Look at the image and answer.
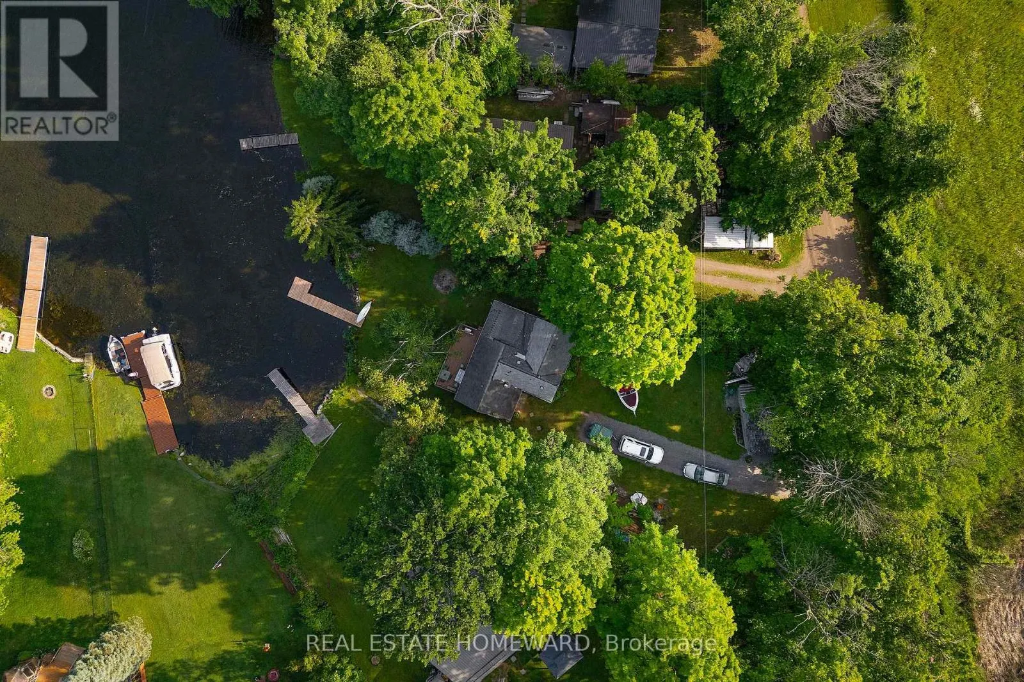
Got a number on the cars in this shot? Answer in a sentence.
There are 2 cars in the image.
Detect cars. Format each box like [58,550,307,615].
[618,435,665,464]
[682,461,730,488]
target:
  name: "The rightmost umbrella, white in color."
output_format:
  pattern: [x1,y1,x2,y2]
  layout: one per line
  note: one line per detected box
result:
[631,492,646,506]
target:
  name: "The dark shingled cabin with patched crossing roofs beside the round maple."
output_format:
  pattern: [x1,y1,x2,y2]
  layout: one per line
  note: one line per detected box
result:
[455,300,570,421]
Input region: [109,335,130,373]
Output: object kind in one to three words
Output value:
boat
